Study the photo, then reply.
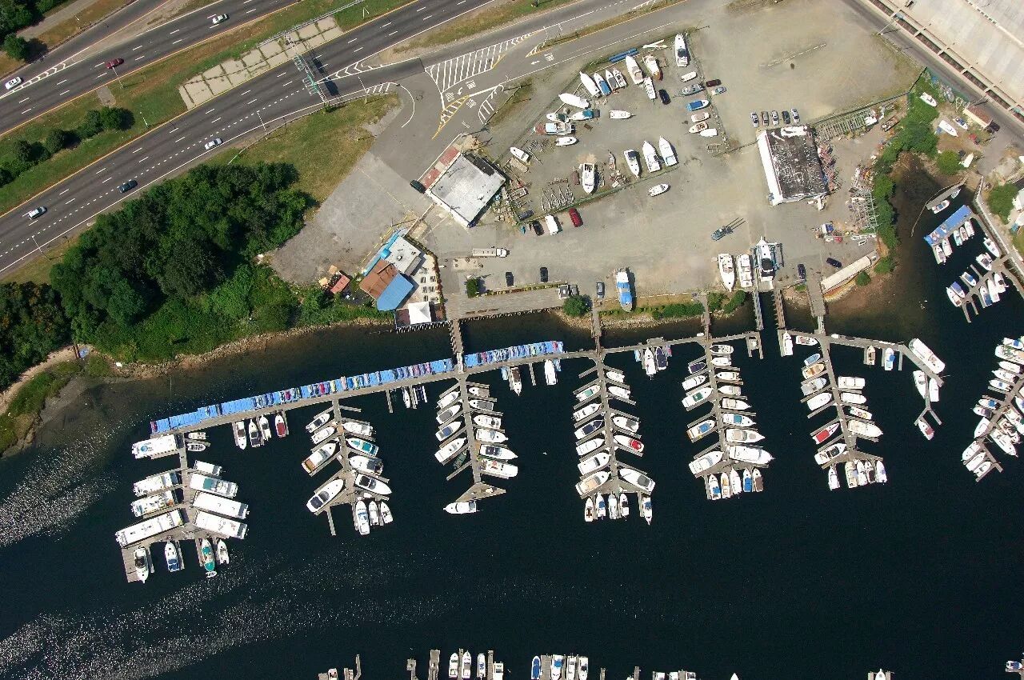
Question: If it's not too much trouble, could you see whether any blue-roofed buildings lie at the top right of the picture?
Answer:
No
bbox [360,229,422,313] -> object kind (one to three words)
building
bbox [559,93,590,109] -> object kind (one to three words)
boat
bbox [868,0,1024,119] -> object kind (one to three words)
bridge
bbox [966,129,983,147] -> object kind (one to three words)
vehicle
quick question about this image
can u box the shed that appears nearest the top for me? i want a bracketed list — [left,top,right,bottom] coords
[963,105,992,129]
